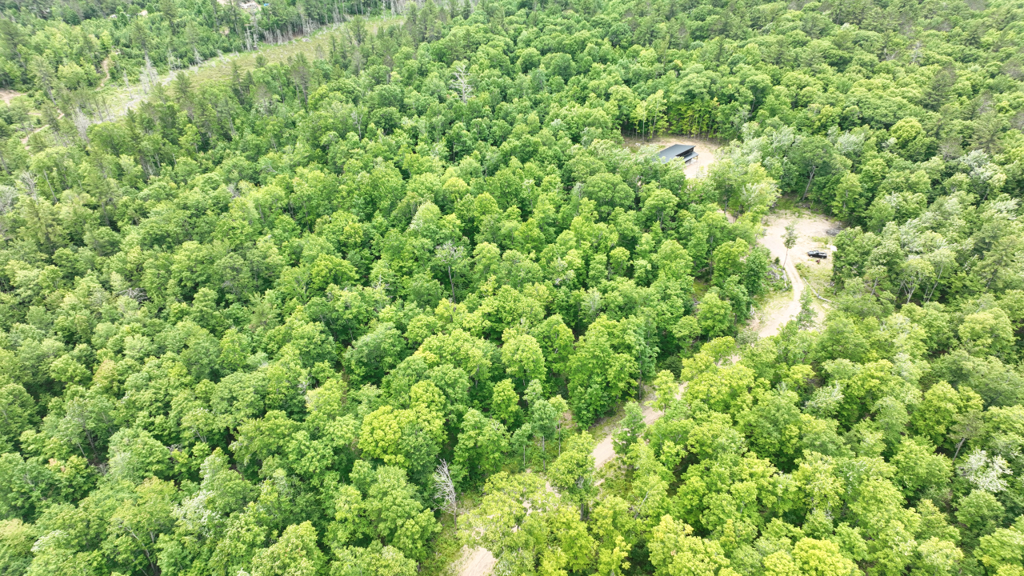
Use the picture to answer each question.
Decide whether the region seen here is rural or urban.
rural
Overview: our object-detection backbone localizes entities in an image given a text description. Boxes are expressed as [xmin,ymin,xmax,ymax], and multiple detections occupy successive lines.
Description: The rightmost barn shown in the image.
[644,143,700,167]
